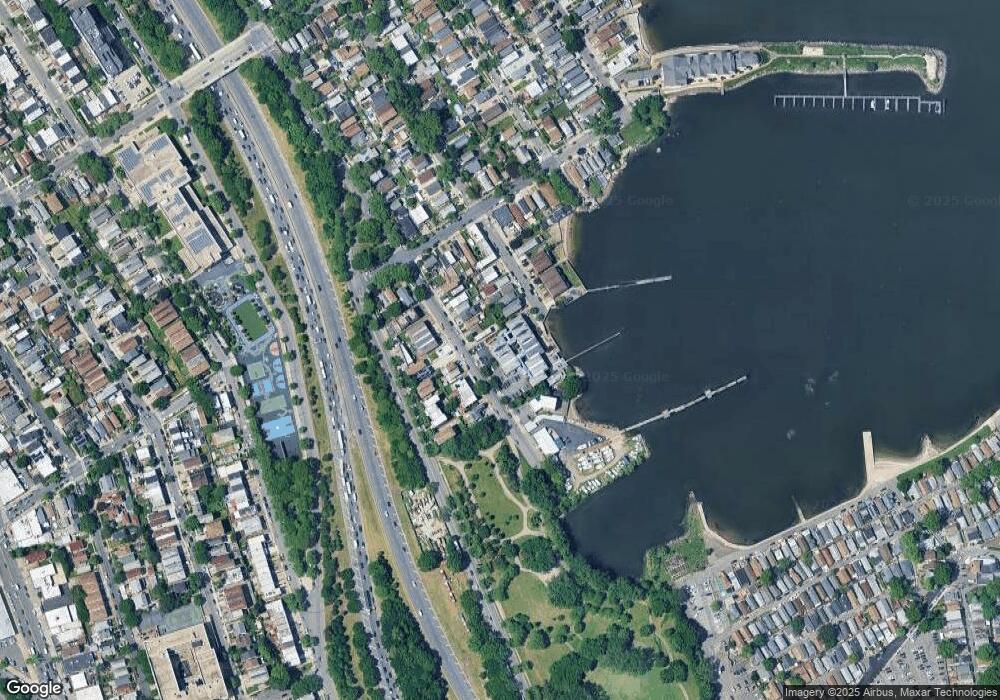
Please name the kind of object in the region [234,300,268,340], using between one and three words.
sports field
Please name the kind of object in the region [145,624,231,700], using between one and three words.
building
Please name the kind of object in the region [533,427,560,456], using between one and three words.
house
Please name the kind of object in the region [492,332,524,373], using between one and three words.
shed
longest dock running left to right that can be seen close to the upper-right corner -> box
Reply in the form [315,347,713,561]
[774,96,944,115]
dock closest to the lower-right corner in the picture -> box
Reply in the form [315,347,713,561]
[863,431,880,486]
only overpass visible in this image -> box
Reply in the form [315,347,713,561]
[175,33,259,94]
